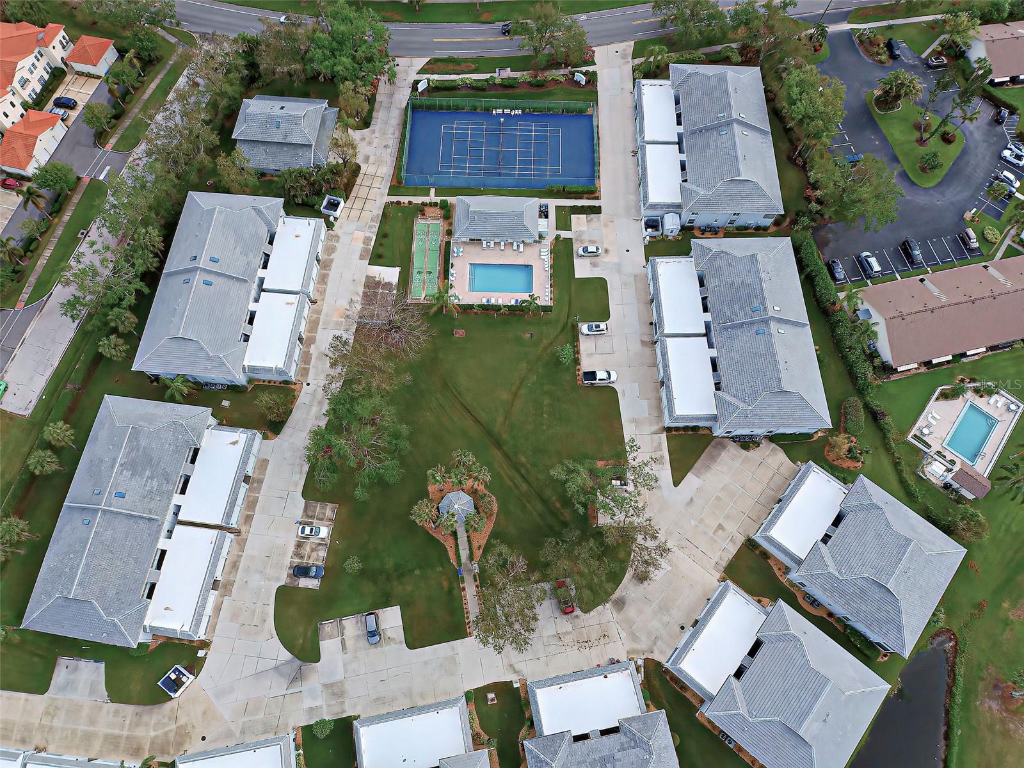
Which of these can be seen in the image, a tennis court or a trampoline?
tennis court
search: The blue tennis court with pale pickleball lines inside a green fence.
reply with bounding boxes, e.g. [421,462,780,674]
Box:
[403,110,596,188]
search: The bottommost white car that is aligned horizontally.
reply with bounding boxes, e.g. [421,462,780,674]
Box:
[296,525,329,539]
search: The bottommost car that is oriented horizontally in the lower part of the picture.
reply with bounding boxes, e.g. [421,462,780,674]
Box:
[291,564,325,578]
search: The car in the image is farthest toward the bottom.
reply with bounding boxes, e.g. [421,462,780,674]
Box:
[365,610,380,645]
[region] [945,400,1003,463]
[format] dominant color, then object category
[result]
blue swimming pool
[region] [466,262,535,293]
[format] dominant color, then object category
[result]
blue swimming pool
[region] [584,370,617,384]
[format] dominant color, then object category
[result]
white vehicle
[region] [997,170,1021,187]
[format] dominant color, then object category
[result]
white car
